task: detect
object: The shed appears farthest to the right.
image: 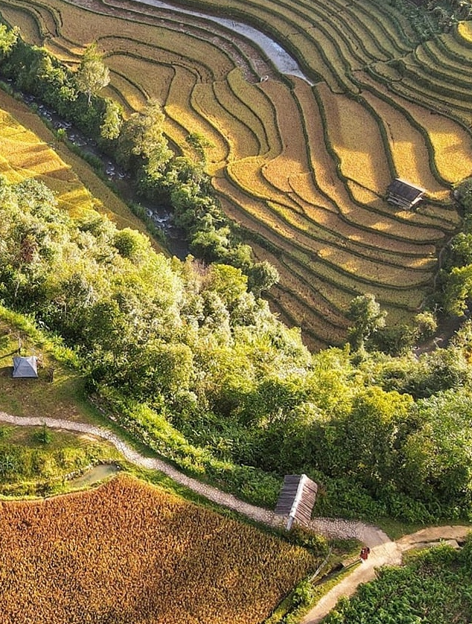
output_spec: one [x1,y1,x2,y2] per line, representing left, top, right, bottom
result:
[381,177,428,218]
